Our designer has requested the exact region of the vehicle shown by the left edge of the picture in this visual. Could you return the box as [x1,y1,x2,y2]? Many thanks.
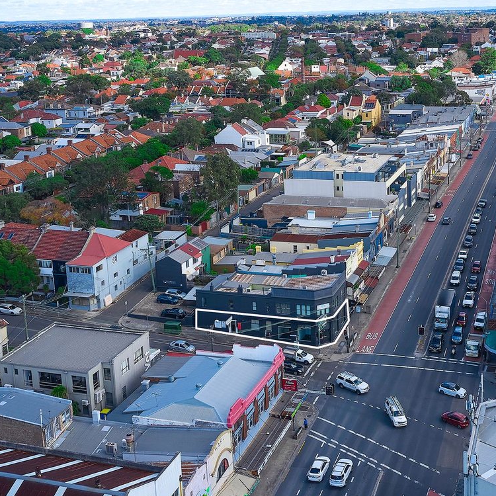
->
[0,301,22,314]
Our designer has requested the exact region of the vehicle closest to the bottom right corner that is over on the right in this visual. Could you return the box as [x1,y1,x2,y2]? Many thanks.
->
[438,410,471,428]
